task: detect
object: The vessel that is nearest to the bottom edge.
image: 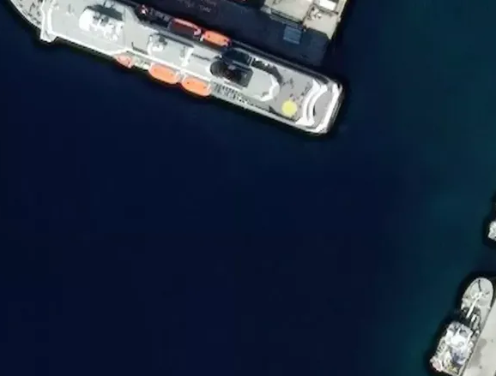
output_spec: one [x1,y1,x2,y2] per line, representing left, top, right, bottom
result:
[432,276,492,376]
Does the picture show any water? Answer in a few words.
Yes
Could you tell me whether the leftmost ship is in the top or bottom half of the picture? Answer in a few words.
top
